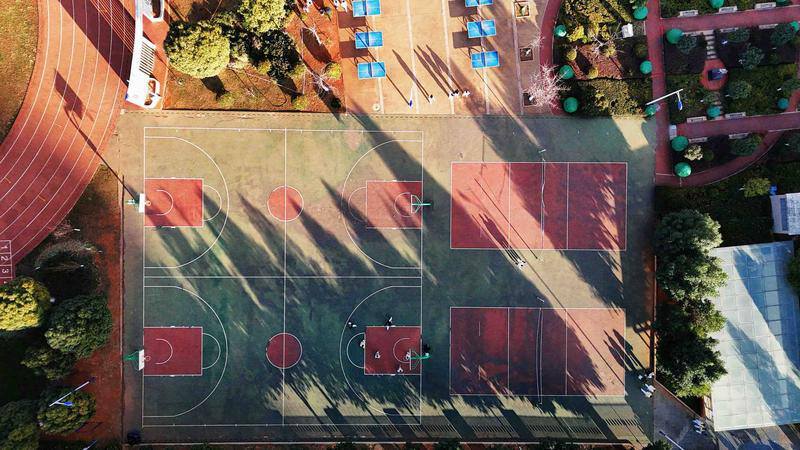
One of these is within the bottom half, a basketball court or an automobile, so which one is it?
basketball court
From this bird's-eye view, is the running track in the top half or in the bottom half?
top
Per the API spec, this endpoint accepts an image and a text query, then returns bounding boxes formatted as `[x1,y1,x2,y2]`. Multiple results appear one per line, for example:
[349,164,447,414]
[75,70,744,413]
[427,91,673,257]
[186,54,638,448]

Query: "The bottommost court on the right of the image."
[450,307,627,396]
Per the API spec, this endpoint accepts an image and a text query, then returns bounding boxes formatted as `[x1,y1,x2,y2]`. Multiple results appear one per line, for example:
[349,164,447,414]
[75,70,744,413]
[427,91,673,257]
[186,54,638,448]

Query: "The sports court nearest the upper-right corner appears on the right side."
[450,162,627,250]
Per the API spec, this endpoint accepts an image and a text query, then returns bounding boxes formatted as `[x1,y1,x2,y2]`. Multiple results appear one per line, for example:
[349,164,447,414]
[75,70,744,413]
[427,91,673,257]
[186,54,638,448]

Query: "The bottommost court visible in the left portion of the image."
[141,277,421,426]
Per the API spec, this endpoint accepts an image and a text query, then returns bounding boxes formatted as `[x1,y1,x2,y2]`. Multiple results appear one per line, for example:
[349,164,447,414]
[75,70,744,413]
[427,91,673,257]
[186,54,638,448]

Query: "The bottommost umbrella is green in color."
[670,161,692,180]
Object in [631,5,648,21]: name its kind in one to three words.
umbrella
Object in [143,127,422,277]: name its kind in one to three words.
basketball court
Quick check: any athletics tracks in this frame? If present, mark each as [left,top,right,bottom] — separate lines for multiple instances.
[0,0,143,285]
